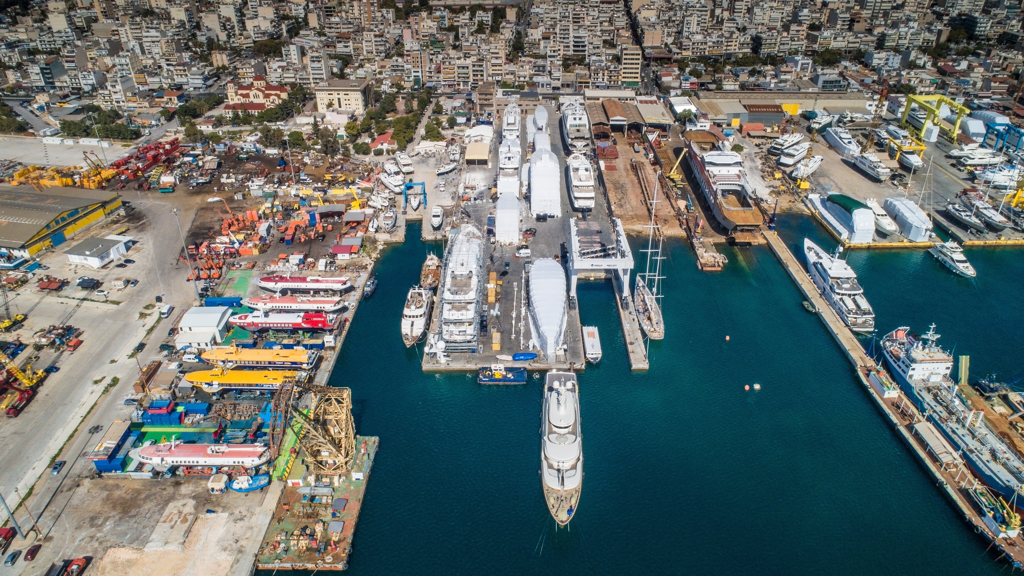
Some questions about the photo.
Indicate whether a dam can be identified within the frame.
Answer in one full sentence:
No, the photo shows no dam.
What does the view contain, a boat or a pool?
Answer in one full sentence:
This aerial view contains a boat.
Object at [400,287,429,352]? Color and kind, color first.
white boat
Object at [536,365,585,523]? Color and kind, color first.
white boat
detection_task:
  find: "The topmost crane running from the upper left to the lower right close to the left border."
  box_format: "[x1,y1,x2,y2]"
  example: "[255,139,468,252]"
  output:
[0,327,54,384]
